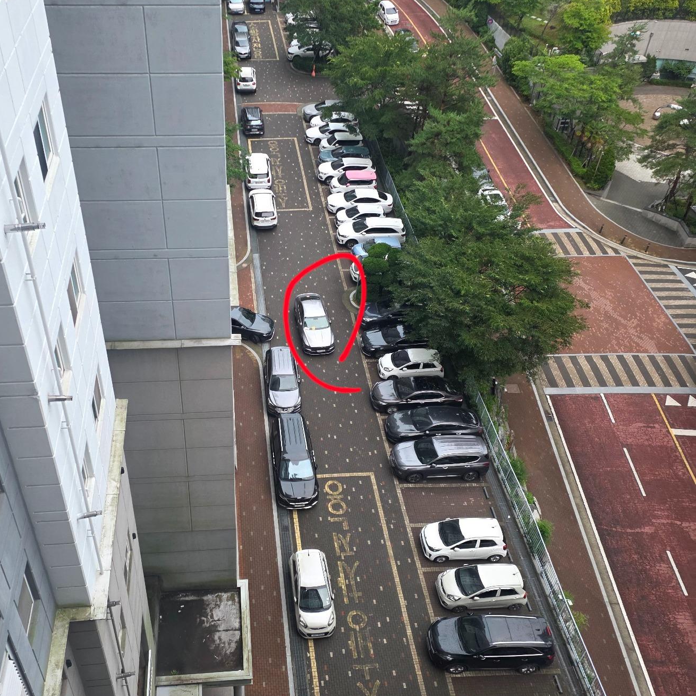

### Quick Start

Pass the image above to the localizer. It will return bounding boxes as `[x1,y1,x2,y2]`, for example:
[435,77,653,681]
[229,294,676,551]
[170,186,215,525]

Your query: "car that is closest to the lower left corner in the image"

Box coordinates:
[293,552,336,634]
